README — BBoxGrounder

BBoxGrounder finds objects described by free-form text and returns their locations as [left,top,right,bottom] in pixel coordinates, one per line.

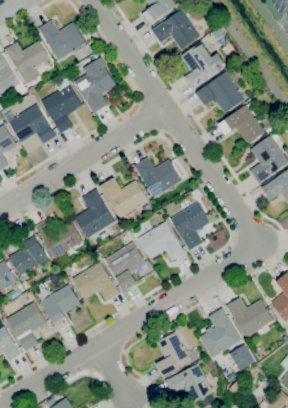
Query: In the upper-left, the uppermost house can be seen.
[38,20,91,60]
